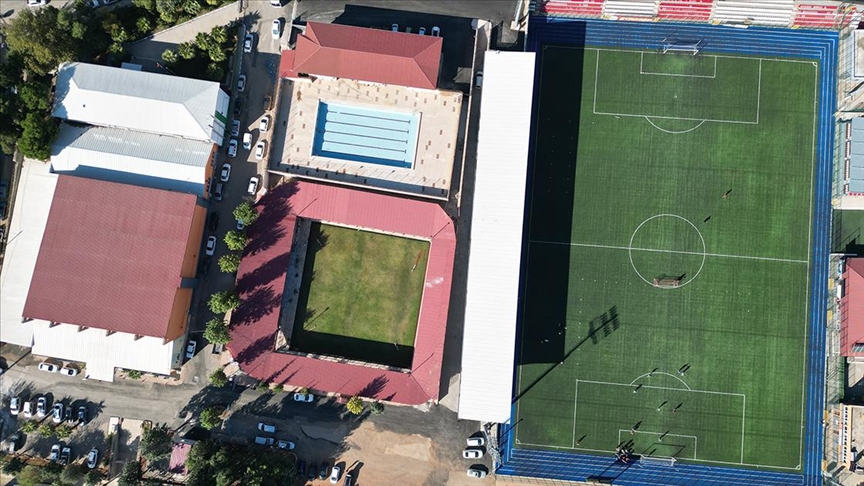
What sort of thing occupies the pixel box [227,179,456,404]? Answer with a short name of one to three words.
stadium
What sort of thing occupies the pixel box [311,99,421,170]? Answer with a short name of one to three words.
swimming pool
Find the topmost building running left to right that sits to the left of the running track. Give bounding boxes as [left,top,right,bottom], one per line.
[280,21,442,90]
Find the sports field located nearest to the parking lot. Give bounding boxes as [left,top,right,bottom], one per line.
[284,221,430,368]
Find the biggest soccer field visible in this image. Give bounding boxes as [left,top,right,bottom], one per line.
[511,43,821,474]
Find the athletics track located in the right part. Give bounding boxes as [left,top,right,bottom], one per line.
[496,18,839,486]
